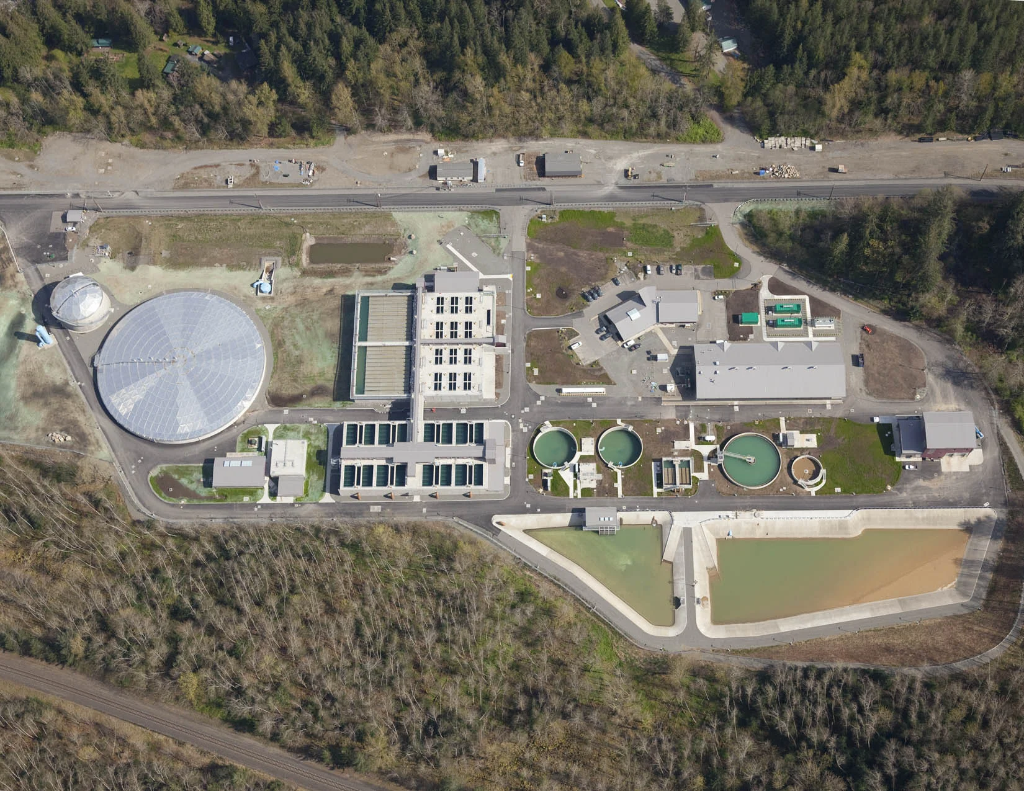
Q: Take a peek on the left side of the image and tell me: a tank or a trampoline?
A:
tank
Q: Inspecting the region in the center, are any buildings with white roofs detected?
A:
Yes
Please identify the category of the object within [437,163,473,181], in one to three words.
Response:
building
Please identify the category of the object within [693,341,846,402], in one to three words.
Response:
building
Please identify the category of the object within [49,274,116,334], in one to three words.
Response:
storage tank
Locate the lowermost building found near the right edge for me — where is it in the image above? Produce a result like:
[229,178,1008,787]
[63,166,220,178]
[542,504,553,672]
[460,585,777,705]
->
[878,411,977,458]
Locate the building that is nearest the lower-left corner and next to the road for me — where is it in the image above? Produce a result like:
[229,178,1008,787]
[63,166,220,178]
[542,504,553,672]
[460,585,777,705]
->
[213,457,267,489]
